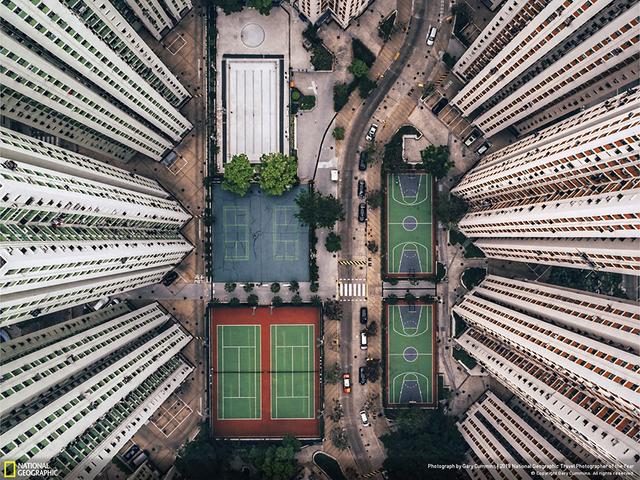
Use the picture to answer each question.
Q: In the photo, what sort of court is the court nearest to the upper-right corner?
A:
basketball court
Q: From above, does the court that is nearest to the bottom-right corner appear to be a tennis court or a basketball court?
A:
basketball court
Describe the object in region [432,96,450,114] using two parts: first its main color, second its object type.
black car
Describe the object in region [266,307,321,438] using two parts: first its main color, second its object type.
green tennis court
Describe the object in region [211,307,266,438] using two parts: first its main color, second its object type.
green tennis court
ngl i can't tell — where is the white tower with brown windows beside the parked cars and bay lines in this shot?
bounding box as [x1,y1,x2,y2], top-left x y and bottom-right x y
[449,0,640,141]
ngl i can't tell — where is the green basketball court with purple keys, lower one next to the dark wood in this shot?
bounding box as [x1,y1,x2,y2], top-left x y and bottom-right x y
[386,302,436,409]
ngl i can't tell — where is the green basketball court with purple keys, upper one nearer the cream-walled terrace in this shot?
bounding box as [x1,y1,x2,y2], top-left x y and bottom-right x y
[386,170,436,278]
